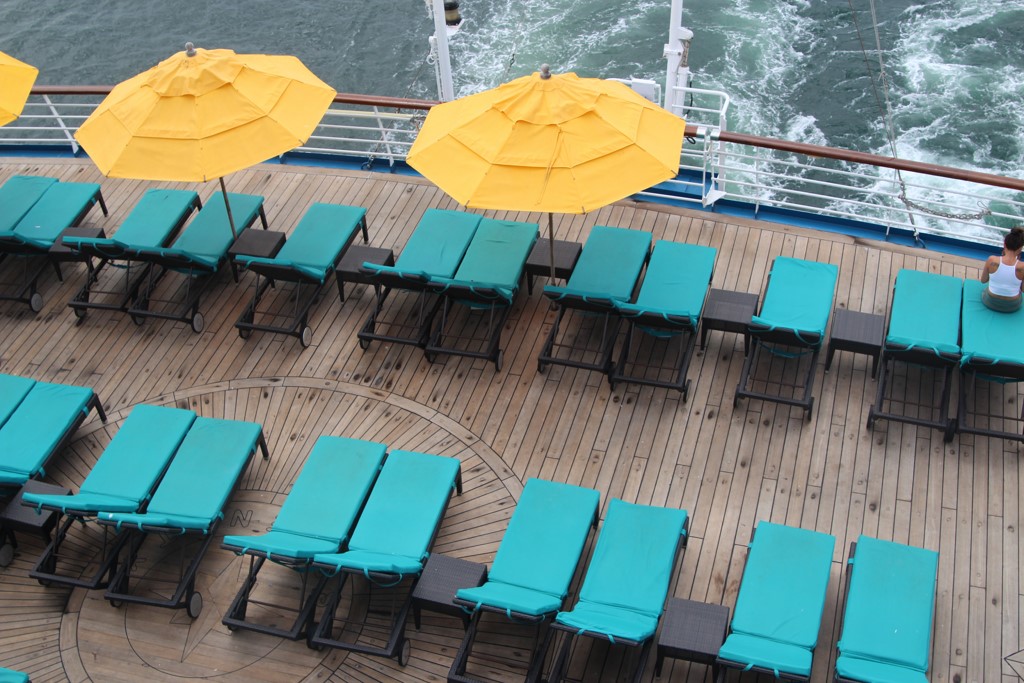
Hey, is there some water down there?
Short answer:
Yes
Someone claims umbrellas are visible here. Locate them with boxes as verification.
[0,49,37,123]
[406,67,686,312]
[69,42,341,272]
